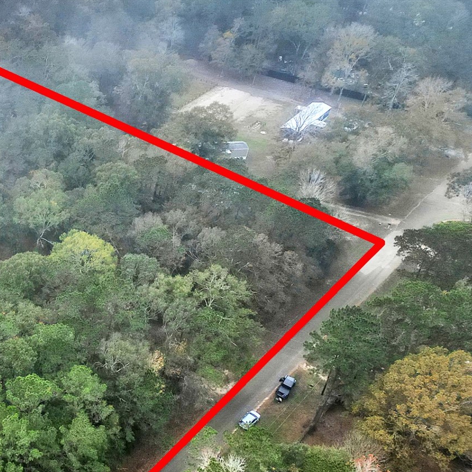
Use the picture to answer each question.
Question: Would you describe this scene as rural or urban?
rural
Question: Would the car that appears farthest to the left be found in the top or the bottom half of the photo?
bottom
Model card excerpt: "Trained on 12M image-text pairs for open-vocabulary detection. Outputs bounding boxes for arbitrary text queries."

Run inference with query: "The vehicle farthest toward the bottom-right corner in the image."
[275,377,297,401]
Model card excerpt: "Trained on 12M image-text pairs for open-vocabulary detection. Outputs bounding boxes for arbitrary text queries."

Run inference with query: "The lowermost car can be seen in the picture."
[239,411,261,434]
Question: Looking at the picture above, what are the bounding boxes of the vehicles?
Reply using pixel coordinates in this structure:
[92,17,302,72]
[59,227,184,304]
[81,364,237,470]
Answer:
[239,411,261,434]
[275,377,297,401]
